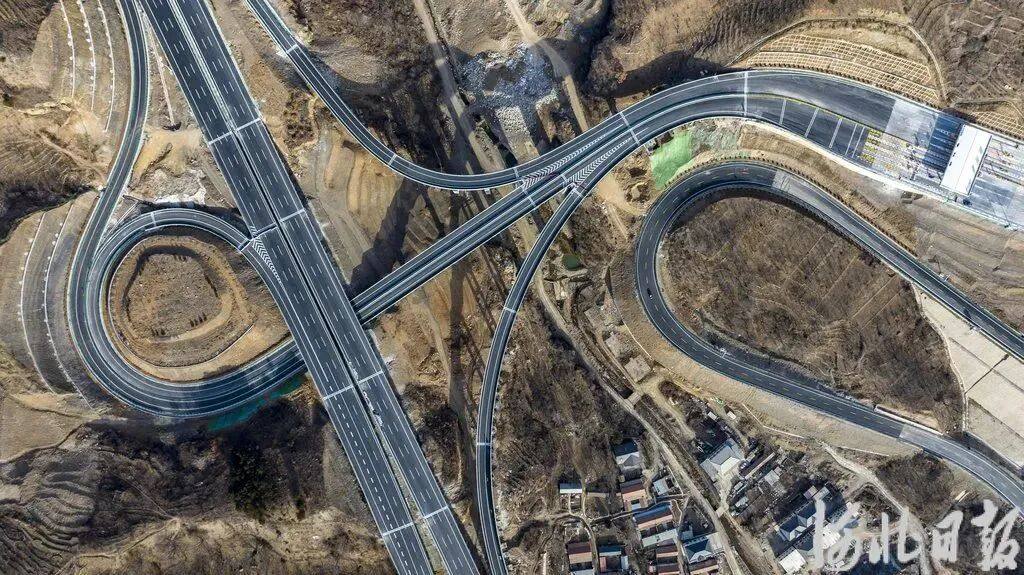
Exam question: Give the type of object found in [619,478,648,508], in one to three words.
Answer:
house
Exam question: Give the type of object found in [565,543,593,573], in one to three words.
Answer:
house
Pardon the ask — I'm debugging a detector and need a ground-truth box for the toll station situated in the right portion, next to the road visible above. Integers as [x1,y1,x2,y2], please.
[856,93,1024,232]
